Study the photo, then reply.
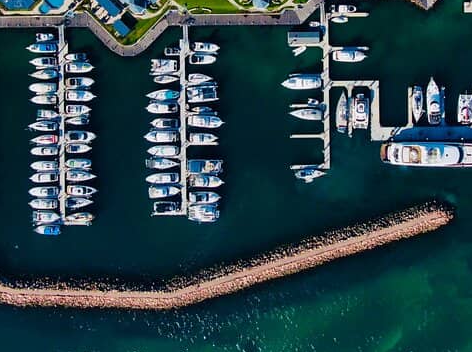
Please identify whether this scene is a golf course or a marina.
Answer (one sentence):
The area seen from above is a marina.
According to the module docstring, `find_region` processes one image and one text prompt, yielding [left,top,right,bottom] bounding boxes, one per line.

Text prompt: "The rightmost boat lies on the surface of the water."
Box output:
[458,95,472,123]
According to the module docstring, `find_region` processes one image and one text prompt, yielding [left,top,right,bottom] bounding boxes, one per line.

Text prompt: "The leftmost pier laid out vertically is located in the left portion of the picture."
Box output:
[35,26,92,225]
